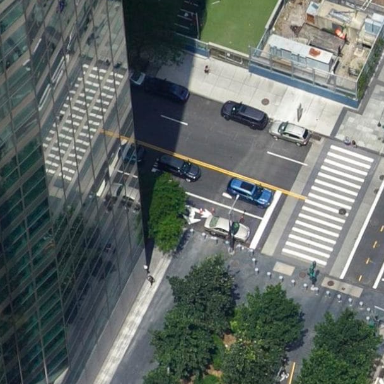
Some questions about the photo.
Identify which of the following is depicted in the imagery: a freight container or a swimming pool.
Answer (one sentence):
Of the two, only a freight container appears.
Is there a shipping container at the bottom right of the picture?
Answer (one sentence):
No, no shipping container can be made out at the bottom right of the picture.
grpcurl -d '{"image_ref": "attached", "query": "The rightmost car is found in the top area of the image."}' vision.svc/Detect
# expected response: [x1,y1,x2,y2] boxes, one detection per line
[269,123,312,149]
